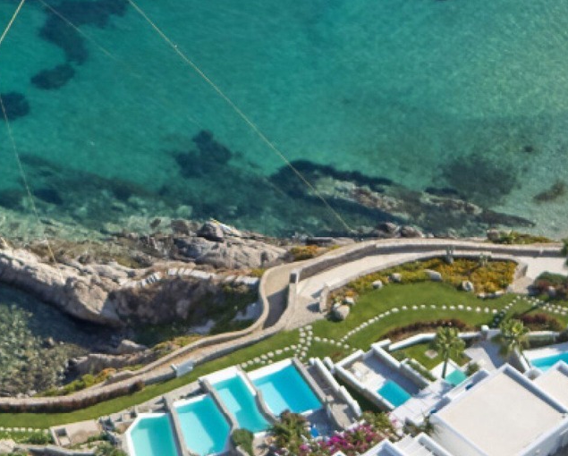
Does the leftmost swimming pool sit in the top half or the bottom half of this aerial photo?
bottom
